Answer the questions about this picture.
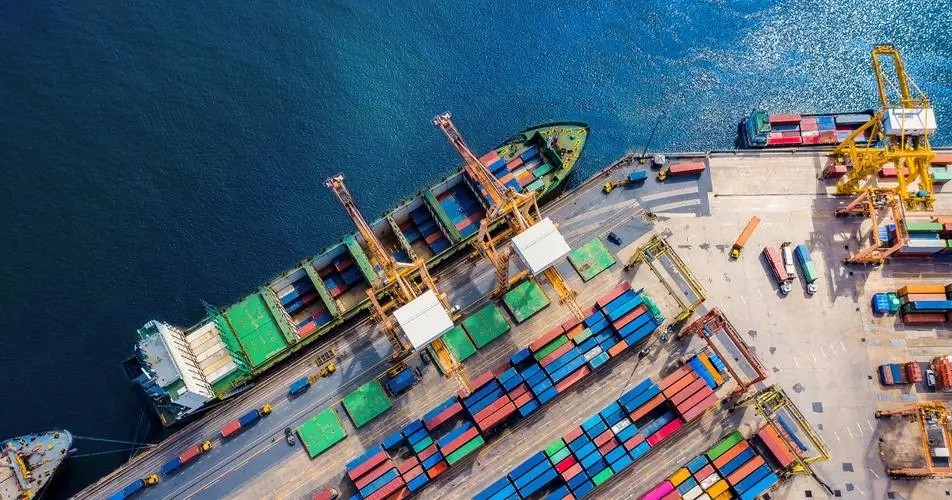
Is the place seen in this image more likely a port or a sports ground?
port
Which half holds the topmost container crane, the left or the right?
right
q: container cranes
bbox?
[821,46,946,207]
[668,307,760,393]
[324,172,474,396]
[620,234,708,326]
[726,387,832,477]
[832,191,909,262]
[435,110,589,319]
[875,408,952,473]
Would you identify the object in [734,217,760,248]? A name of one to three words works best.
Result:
shipping container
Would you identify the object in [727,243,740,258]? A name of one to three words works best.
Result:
vehicle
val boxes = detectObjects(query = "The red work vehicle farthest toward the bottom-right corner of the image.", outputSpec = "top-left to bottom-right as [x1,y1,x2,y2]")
[932,359,952,391]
